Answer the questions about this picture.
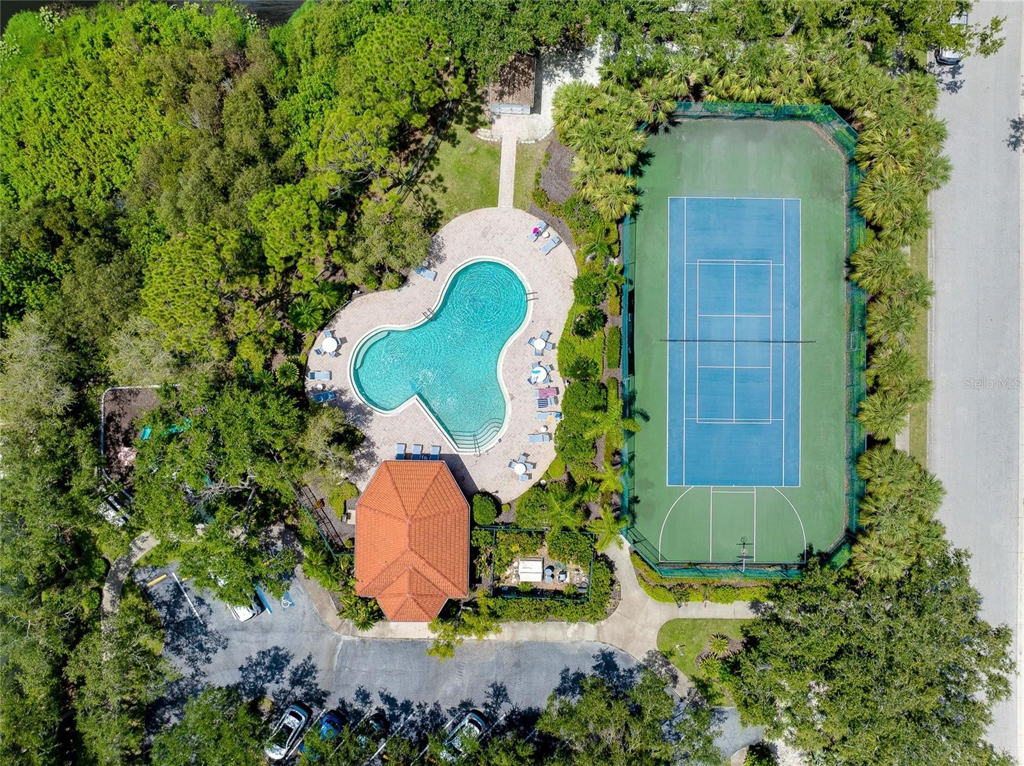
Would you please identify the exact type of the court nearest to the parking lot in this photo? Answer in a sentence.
The court nearest to the parking lot appears to be a tennis court.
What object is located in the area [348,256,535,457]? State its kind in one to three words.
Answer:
swimming pool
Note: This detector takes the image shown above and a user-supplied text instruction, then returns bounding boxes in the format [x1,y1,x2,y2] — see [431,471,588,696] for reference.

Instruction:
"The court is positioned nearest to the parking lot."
[629,118,847,570]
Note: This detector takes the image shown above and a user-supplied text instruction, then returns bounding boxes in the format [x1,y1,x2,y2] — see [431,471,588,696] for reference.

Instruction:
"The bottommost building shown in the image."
[354,459,470,624]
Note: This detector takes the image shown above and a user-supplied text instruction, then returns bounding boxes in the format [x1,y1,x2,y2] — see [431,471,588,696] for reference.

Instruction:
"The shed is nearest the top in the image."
[489,47,533,114]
